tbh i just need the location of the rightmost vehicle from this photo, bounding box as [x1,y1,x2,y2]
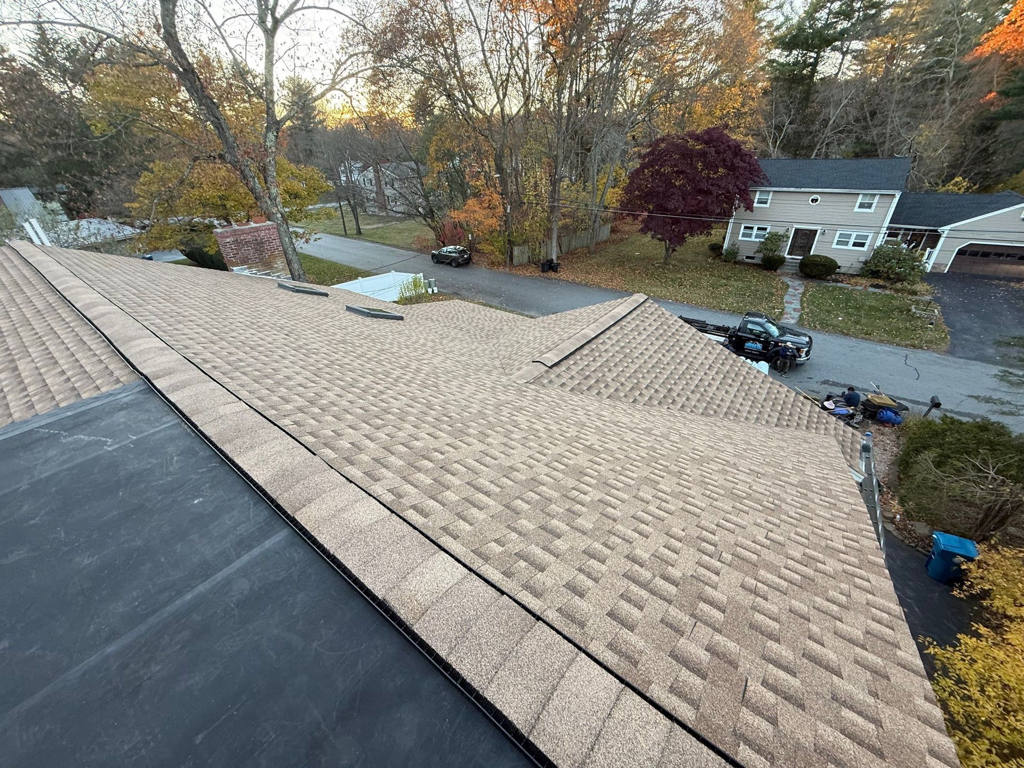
[677,309,813,367]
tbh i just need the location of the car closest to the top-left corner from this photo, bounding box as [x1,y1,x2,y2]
[430,243,474,267]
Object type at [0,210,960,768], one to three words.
house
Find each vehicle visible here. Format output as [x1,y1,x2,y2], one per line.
[430,243,474,267]
[677,309,813,367]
